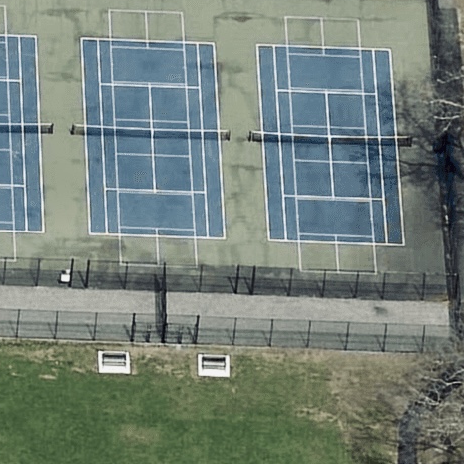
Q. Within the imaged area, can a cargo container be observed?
No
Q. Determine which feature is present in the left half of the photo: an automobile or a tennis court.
tennis court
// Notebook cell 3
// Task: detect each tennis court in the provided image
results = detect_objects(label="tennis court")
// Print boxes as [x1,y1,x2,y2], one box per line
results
[0,6,45,263]
[258,16,405,276]
[81,10,226,269]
